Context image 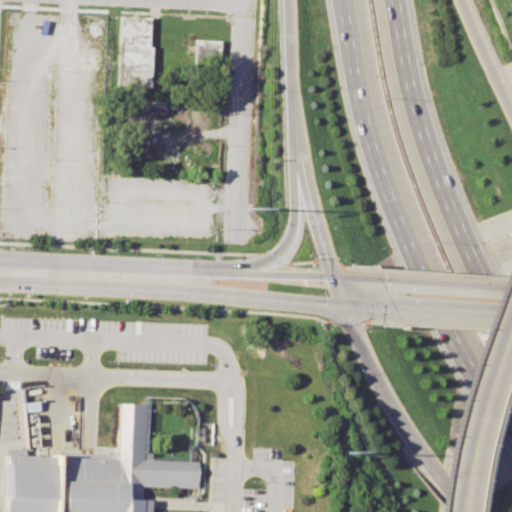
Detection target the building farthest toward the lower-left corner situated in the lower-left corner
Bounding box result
[5,449,69,512]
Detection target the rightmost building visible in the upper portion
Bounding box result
[196,40,224,66]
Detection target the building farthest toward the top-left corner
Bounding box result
[120,17,158,91]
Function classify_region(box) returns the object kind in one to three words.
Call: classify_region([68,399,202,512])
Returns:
building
